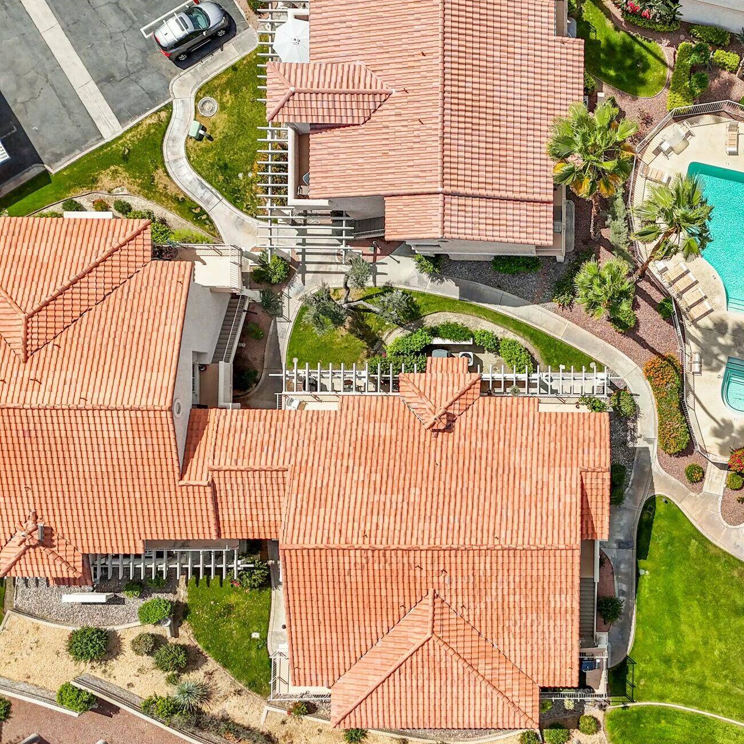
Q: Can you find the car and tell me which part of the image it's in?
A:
top left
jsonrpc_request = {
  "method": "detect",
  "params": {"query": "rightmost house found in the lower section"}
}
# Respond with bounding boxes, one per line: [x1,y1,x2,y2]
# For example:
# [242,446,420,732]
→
[207,358,612,733]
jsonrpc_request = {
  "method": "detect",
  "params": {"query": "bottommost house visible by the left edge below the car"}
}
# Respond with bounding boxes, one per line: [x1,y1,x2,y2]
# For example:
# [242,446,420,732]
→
[0,215,268,586]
